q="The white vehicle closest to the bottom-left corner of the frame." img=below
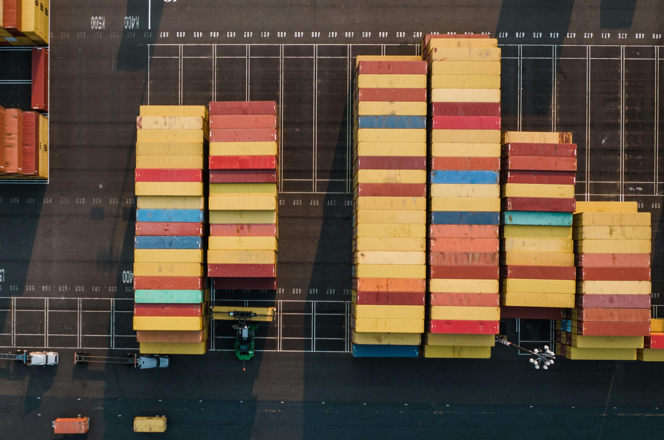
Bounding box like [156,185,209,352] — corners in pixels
[18,350,62,367]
